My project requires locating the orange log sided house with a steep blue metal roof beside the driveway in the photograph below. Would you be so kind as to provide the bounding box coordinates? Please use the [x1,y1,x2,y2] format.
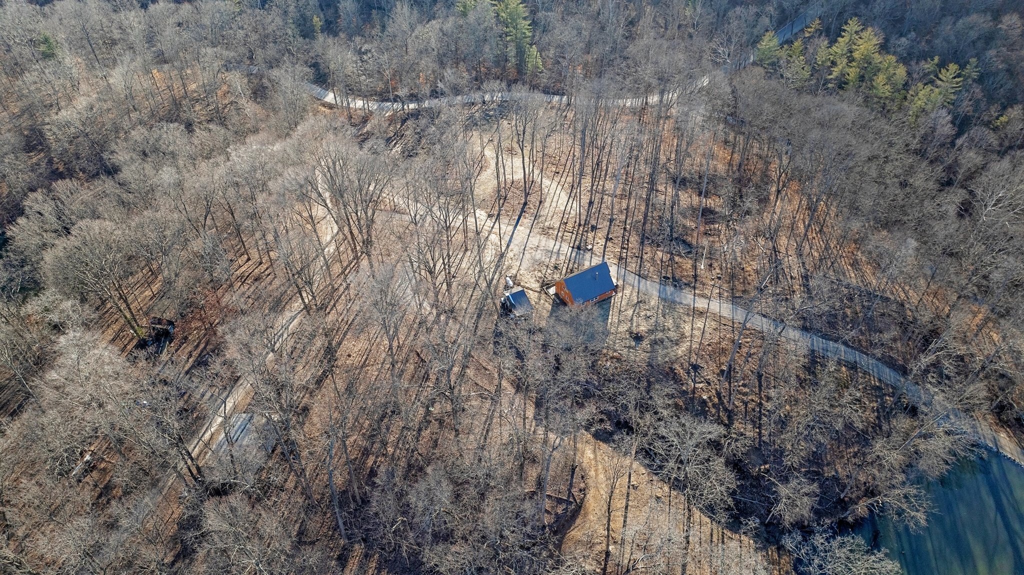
[556,262,622,316]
